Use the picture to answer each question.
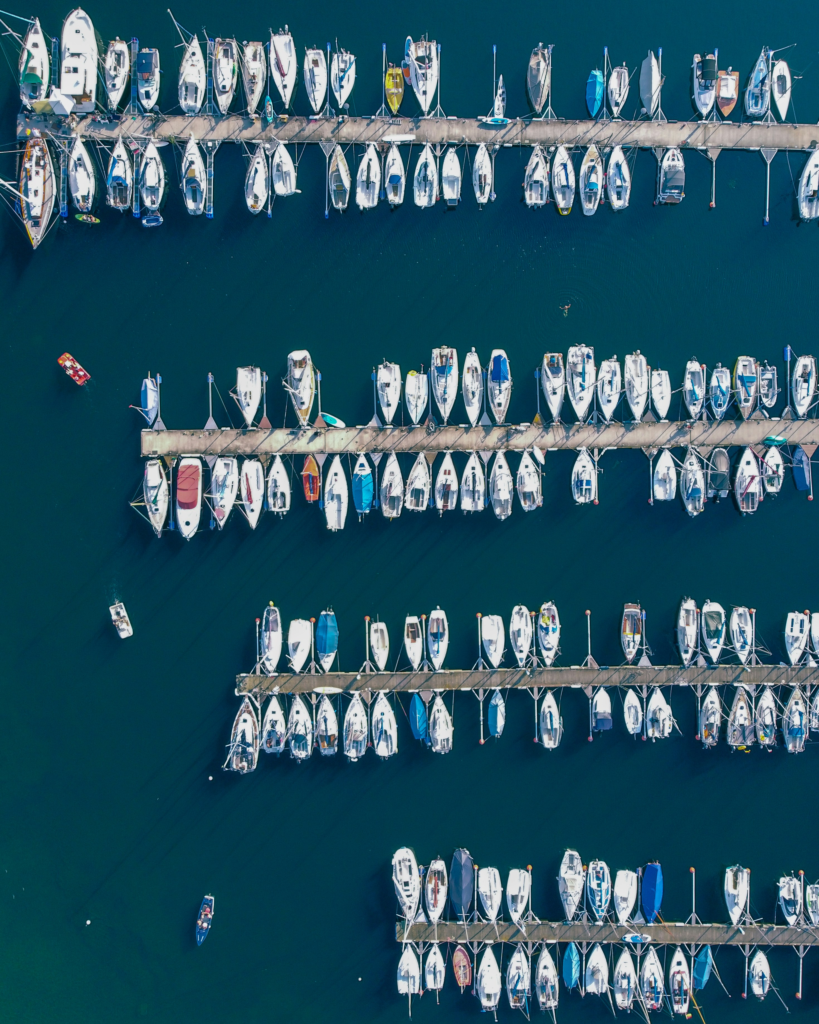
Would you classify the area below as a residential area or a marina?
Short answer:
marina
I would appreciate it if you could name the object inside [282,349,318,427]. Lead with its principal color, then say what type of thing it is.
white boat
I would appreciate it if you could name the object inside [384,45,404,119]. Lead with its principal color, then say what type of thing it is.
yellow boat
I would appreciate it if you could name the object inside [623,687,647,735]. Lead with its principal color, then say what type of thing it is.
white boat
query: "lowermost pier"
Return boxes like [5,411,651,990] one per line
[396,920,819,946]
